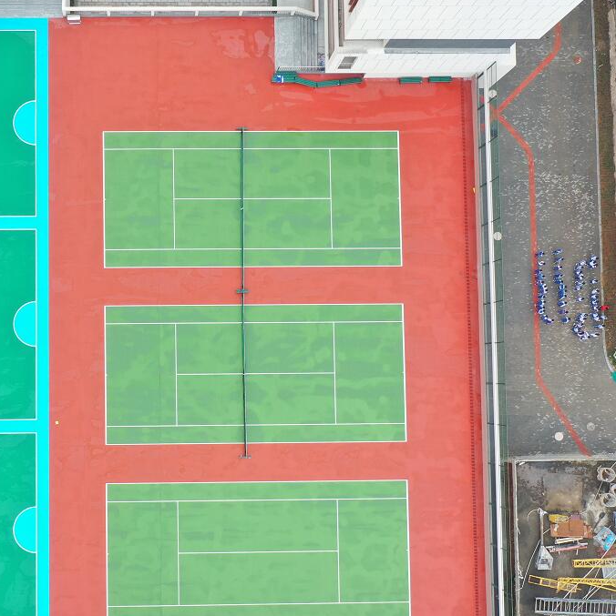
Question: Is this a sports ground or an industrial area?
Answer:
sports ground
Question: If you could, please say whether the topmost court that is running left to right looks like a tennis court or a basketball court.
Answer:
tennis court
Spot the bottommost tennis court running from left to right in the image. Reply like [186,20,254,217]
[107,480,411,616]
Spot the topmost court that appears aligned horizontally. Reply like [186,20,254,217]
[103,129,403,268]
